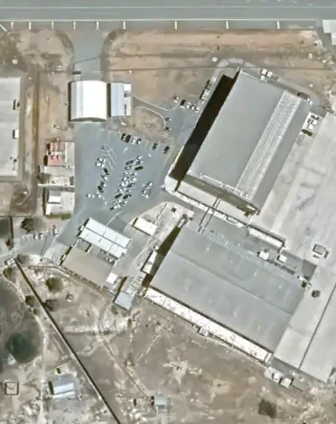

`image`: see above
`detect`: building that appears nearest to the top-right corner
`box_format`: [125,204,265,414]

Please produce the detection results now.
[188,71,310,214]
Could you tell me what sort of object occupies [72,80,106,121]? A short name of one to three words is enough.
hangar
